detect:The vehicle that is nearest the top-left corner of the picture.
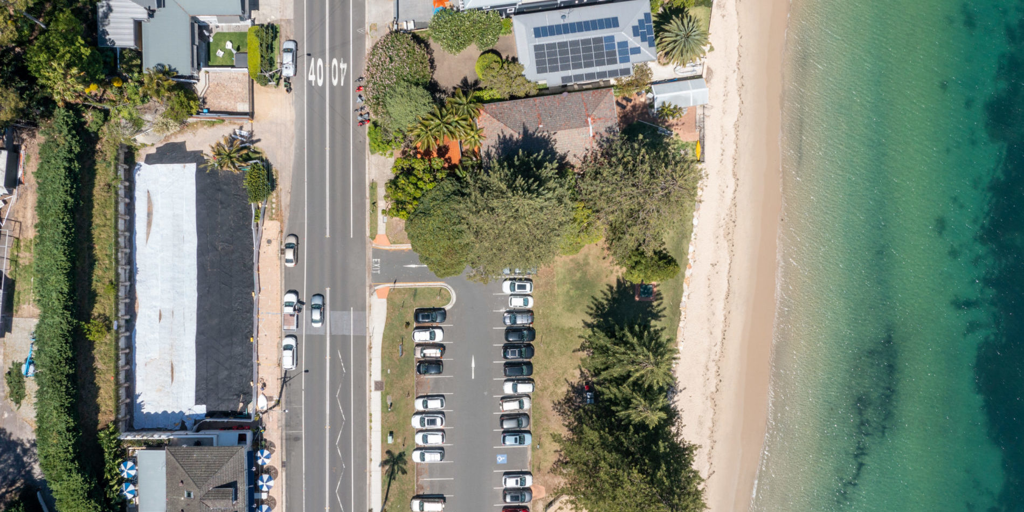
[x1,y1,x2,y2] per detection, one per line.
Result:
[280,40,297,77]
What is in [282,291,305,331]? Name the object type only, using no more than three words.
truck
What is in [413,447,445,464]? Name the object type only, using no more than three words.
car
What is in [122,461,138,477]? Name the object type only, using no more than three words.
umbrella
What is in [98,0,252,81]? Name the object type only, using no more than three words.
building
